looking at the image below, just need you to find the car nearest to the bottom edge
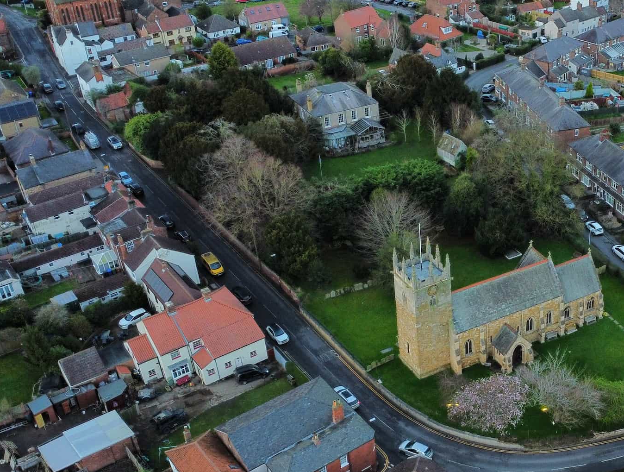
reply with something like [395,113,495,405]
[397,440,437,462]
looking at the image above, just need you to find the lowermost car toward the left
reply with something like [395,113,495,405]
[150,406,191,432]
